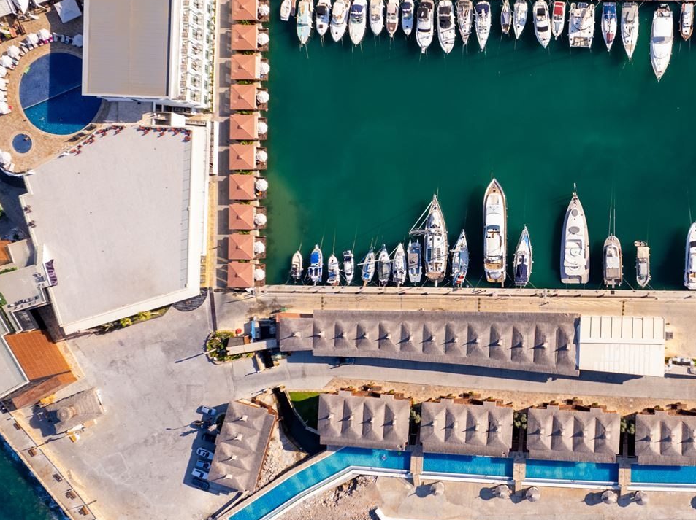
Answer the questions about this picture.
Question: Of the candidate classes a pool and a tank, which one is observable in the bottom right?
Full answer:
The one visible in the bottom right is a pool.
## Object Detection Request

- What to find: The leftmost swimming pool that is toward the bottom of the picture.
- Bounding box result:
[226,445,412,520]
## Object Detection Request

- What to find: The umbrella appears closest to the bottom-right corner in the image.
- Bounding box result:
[634,489,649,504]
